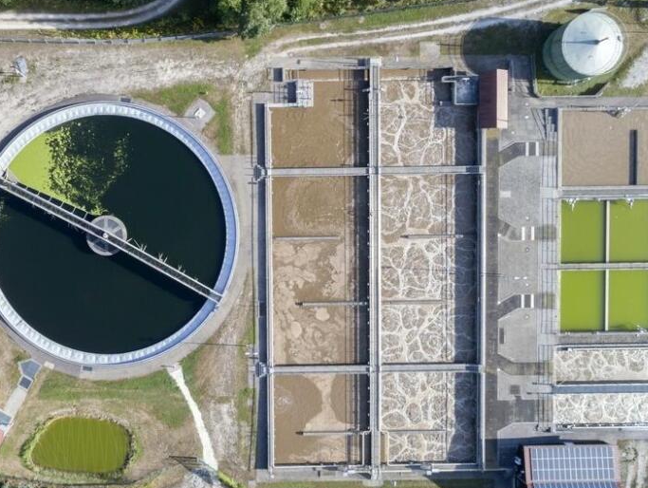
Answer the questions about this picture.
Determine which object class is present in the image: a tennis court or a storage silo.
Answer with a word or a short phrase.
storage silo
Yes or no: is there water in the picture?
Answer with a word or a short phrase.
Yes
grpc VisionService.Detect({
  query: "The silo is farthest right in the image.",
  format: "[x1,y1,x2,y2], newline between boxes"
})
[539,12,622,85]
